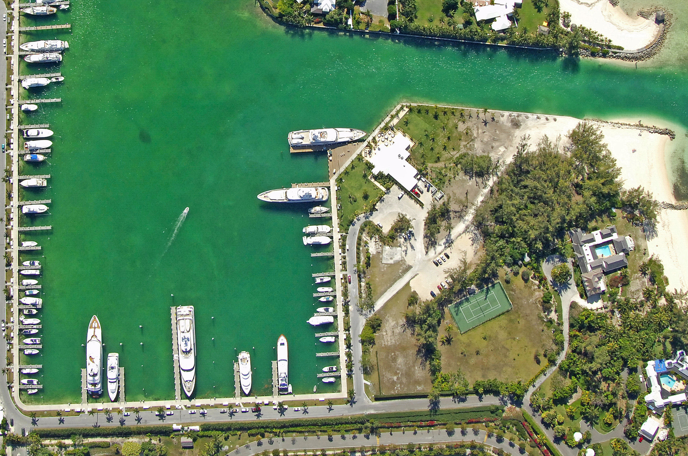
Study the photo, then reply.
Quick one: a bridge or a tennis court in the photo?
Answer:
tennis court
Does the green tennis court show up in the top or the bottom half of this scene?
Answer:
bottom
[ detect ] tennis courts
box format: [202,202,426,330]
[448,282,514,333]
[670,406,688,434]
